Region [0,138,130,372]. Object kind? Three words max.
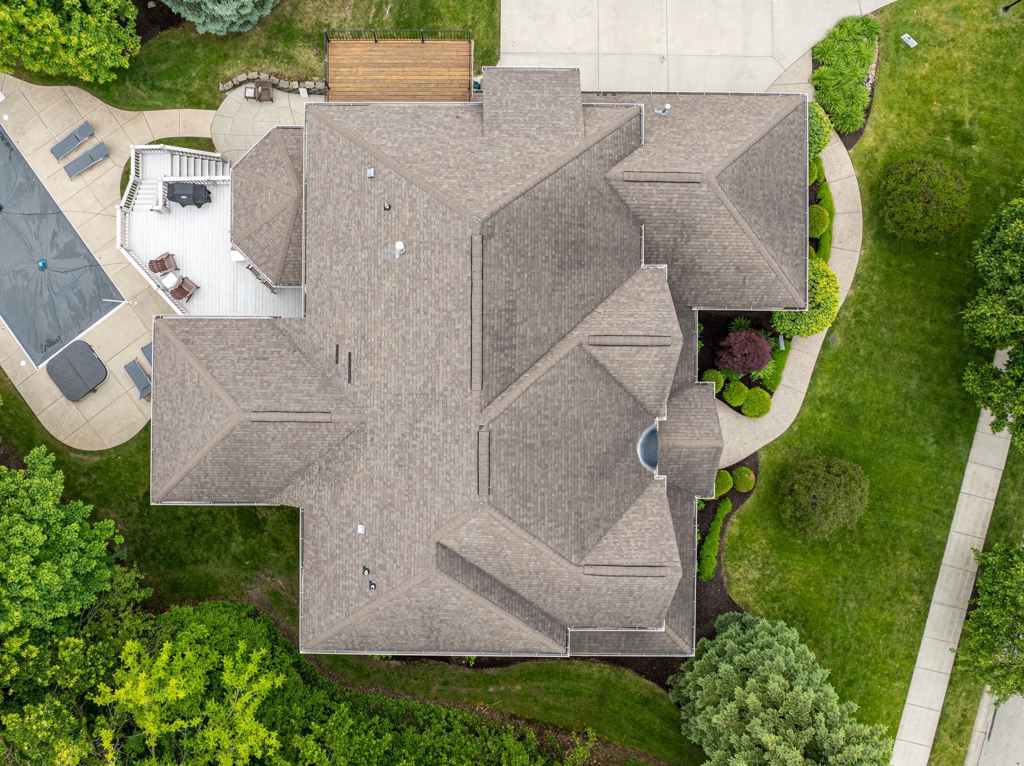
swimming pool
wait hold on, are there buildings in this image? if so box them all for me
[150,67,809,657]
